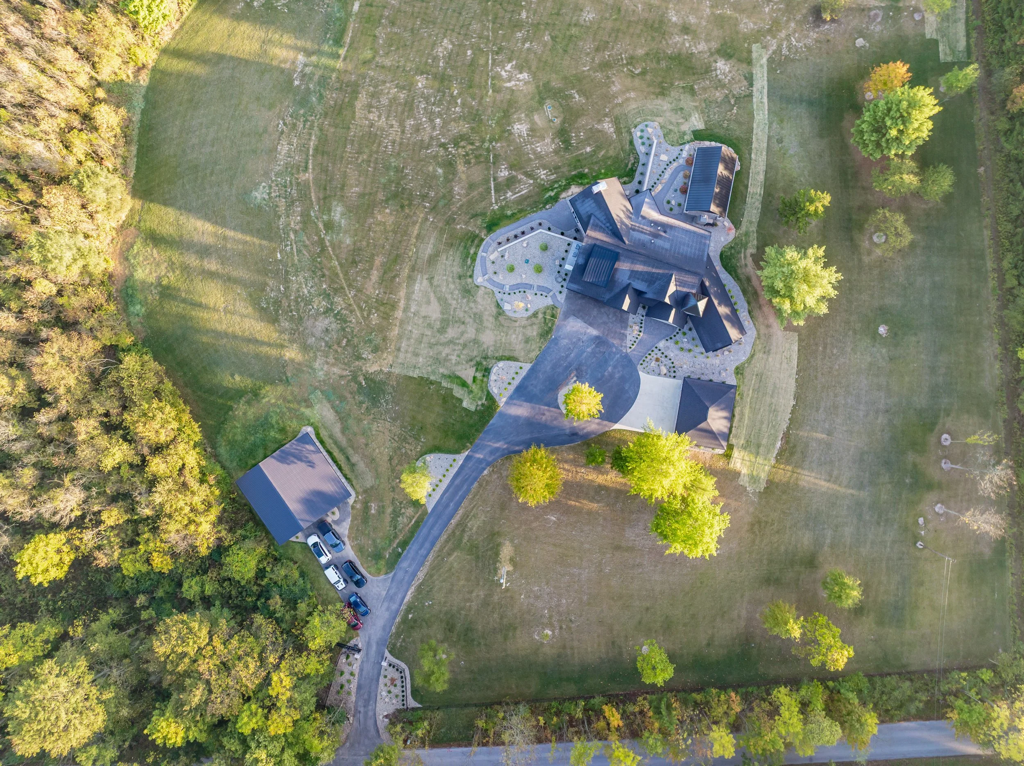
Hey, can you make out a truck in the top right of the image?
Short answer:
No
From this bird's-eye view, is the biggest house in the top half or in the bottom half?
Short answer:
top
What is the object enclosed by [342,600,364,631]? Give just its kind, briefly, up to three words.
car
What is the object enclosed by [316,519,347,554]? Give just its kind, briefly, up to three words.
truck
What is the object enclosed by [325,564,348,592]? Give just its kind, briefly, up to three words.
car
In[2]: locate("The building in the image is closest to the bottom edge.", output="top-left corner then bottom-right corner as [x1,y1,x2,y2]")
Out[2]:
[235,433,353,546]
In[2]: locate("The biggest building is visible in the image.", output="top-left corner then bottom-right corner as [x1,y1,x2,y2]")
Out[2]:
[565,176,747,353]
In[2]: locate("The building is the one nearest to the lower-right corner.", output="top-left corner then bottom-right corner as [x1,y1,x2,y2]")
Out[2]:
[675,377,737,450]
